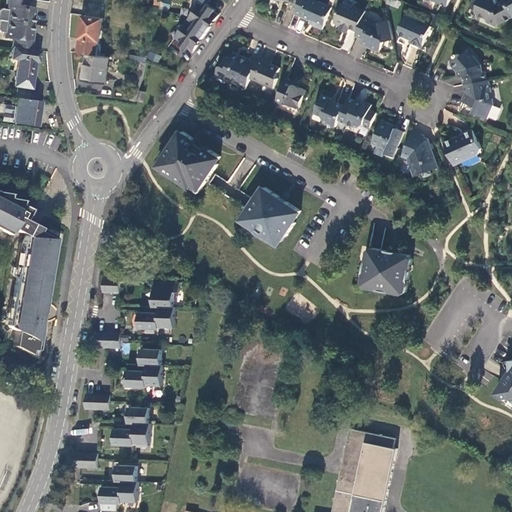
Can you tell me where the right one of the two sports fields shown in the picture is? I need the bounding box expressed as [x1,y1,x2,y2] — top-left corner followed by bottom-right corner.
[402,442,512,512]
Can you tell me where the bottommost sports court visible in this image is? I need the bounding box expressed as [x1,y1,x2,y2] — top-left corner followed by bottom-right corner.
[238,442,301,512]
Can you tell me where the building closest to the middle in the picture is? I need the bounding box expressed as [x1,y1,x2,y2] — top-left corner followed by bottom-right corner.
[236,186,302,250]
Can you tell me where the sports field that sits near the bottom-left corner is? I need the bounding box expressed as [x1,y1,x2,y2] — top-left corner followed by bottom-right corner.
[0,392,36,509]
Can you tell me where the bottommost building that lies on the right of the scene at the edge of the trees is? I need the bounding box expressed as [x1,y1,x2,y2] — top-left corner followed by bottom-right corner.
[331,430,398,512]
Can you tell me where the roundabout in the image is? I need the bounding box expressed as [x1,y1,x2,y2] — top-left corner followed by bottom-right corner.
[72,144,123,195]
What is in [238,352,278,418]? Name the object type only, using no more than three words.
sports court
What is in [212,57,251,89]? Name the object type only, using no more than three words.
house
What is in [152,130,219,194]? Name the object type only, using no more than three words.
building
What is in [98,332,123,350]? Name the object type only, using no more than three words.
house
